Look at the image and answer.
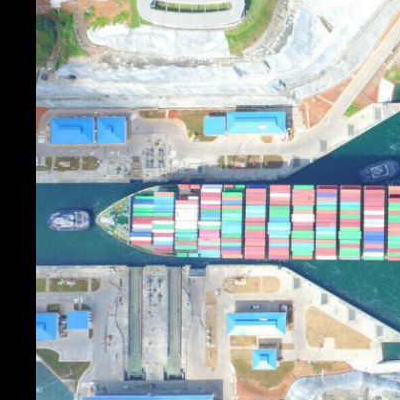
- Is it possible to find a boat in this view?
Yes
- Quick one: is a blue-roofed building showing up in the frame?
Yes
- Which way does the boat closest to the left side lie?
from side to side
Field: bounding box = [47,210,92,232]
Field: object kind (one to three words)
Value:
boat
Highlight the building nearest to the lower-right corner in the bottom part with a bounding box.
[253,349,277,370]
